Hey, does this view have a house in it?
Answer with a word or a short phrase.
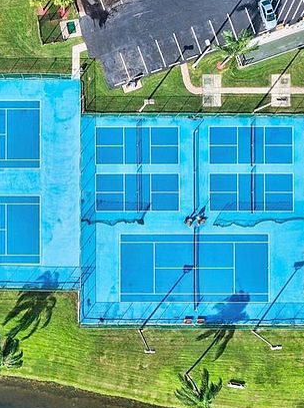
No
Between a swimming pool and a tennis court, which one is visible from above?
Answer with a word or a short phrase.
tennis court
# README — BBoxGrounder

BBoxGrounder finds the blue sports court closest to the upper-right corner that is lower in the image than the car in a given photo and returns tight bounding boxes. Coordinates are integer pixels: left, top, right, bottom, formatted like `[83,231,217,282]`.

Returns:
[210,127,293,164]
